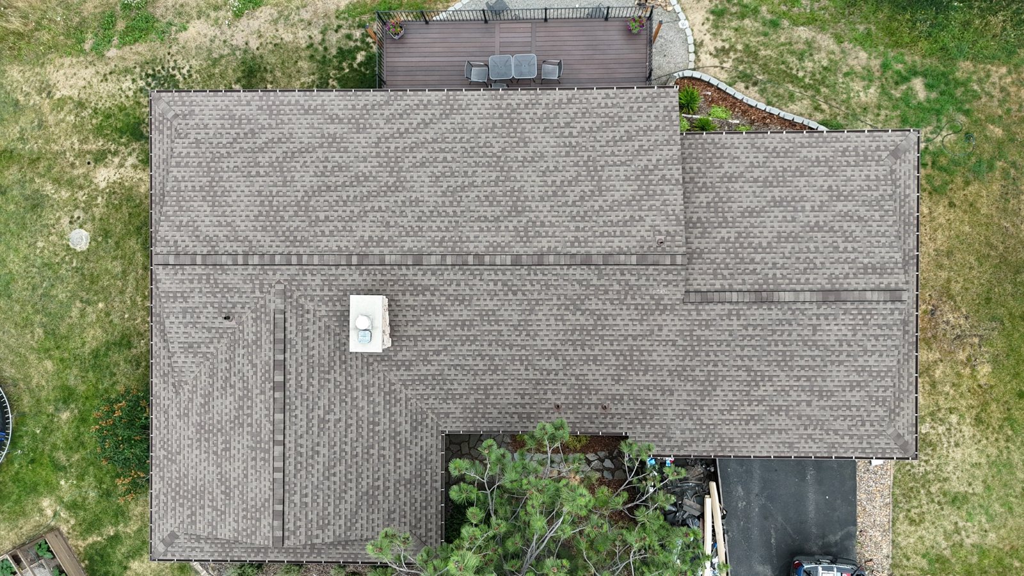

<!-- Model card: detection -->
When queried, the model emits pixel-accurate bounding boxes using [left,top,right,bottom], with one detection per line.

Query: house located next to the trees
[149,84,920,568]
